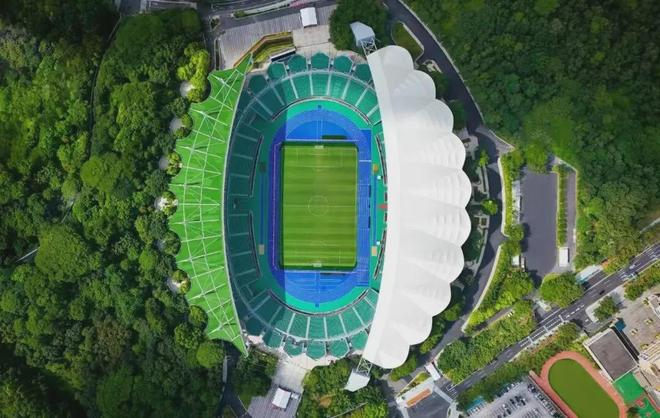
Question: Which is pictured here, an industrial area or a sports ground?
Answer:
sports ground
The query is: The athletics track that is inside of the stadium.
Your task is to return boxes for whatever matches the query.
[239,99,387,312]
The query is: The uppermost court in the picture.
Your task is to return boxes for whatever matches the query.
[614,371,643,403]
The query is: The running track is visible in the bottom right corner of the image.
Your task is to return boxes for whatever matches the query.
[532,350,632,418]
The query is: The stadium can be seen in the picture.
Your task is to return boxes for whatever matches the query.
[168,21,472,392]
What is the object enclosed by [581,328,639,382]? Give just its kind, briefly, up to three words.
building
